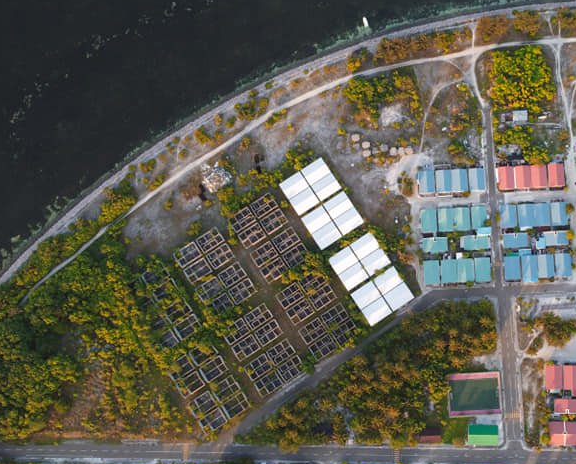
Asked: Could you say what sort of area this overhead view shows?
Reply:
residential area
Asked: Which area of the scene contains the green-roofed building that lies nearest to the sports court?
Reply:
bottom right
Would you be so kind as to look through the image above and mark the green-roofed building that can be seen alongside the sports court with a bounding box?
[467,424,498,446]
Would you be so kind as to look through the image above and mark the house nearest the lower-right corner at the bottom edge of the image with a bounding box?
[549,421,576,446]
